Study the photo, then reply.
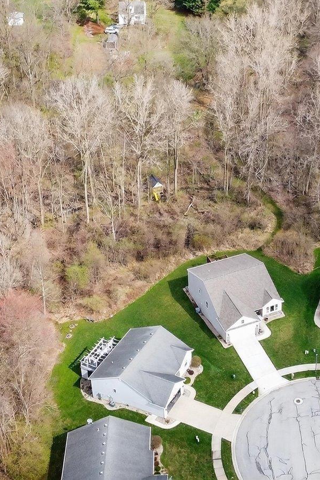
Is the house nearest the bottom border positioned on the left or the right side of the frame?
left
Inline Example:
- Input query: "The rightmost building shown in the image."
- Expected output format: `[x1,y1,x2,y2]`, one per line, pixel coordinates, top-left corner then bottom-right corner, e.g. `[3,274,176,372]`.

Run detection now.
[187,251,285,343]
